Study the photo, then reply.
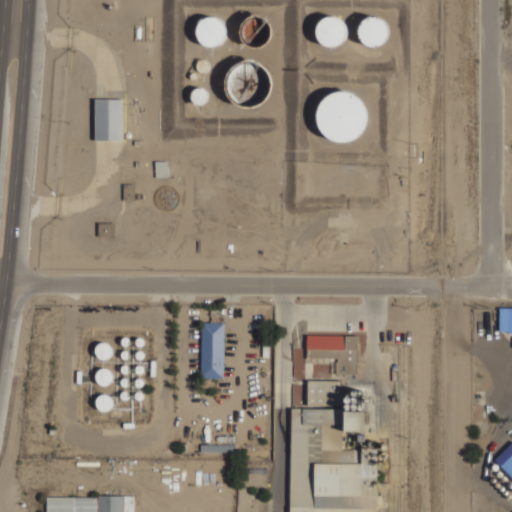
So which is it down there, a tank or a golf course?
tank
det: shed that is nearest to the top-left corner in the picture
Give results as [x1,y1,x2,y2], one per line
[94,98,124,141]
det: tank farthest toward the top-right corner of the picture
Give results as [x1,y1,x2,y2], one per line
[358,16,390,49]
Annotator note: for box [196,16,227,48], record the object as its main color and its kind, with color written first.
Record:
white storage tank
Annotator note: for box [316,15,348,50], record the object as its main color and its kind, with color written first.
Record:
white storage tank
